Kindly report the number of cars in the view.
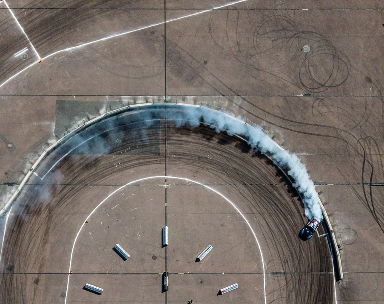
1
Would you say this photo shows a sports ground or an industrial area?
sports ground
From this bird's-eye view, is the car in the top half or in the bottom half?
bottom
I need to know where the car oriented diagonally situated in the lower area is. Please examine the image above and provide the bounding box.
[296,212,326,244]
